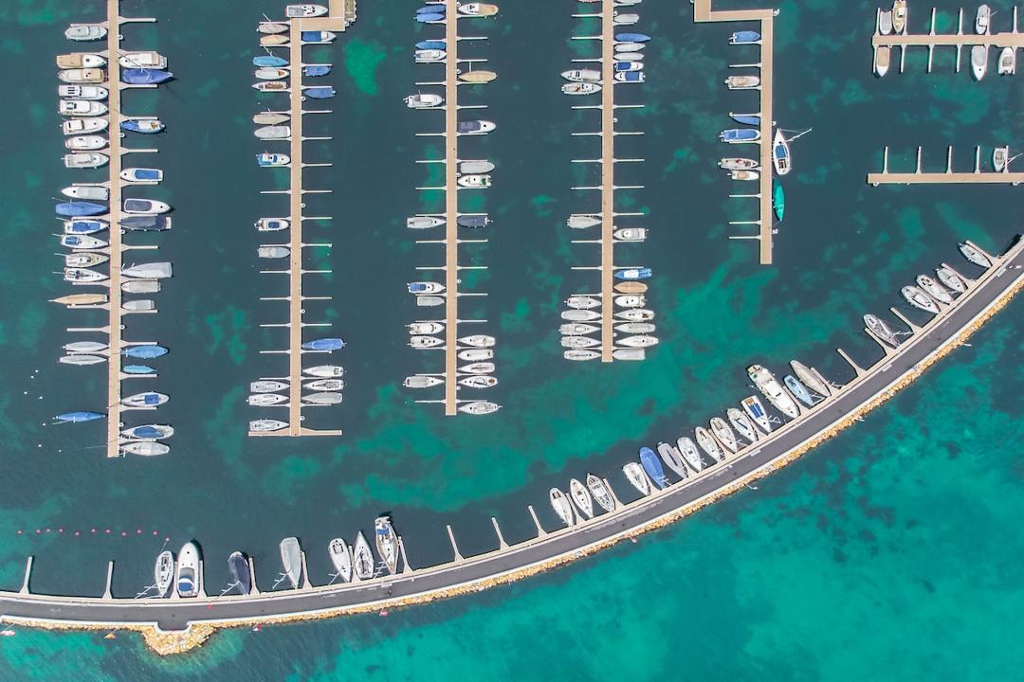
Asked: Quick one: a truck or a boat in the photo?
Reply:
boat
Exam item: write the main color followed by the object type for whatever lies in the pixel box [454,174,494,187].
white boat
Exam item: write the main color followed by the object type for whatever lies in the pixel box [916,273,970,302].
white boat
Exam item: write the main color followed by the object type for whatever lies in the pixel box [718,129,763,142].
blue boat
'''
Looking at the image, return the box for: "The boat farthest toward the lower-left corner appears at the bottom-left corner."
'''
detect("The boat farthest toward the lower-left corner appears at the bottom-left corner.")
[138,550,175,598]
